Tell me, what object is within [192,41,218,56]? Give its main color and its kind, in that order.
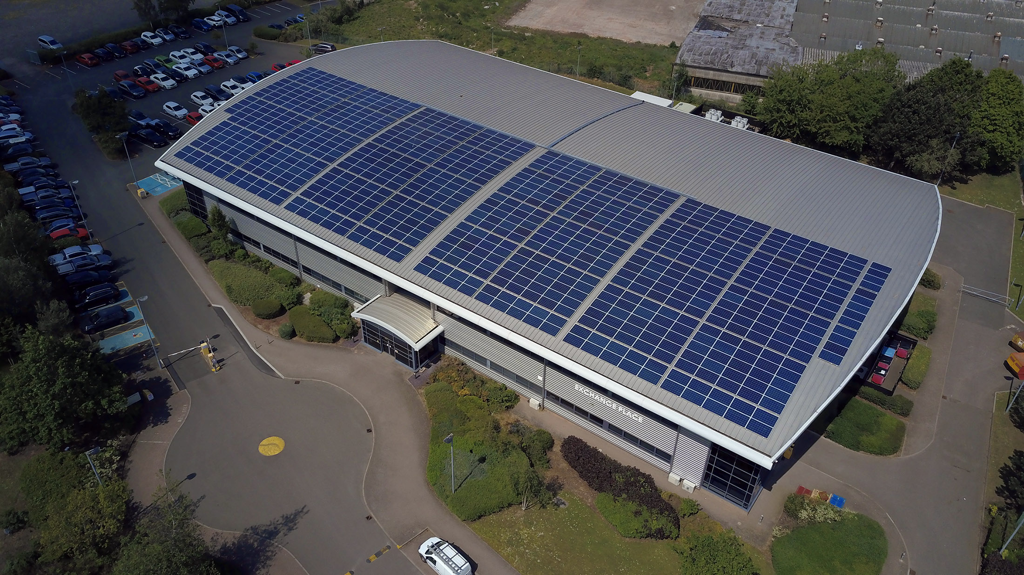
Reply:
black car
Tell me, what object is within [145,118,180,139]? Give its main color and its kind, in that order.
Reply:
black truck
